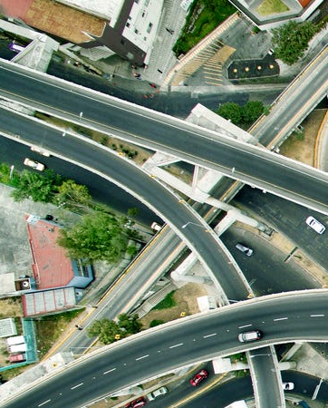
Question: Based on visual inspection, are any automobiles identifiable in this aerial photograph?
Yes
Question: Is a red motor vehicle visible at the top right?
No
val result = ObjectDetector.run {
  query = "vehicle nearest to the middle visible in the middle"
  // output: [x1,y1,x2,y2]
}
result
[146,219,166,233]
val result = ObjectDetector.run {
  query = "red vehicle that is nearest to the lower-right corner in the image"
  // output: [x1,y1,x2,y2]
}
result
[190,368,210,386]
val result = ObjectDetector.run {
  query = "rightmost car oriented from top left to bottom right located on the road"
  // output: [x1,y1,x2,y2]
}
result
[307,216,327,234]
